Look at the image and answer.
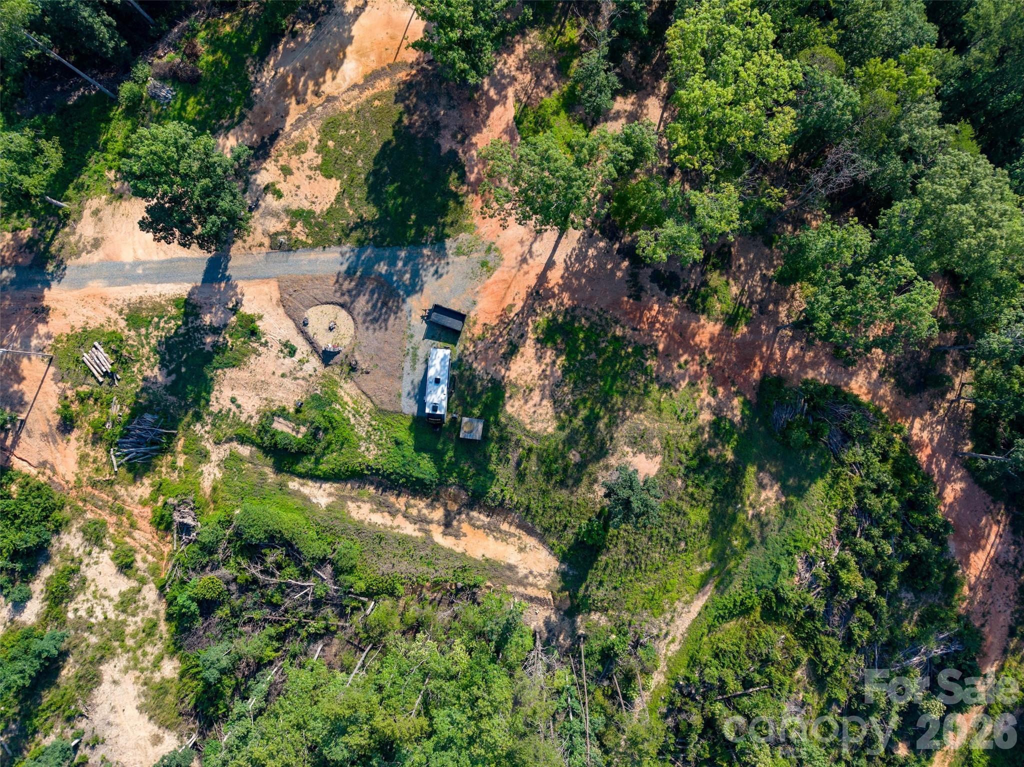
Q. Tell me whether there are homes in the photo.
No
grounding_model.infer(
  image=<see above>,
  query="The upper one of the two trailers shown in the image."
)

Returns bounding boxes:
[421,303,467,332]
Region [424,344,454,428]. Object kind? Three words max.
trailer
